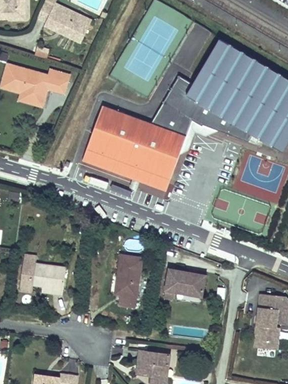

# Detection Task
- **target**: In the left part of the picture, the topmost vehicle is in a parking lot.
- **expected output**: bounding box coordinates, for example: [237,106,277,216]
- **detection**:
[86,176,110,189]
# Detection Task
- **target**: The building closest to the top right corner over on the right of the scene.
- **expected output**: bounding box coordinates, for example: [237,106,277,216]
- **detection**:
[188,40,288,152]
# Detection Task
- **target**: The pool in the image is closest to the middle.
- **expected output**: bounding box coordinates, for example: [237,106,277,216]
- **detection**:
[124,237,144,252]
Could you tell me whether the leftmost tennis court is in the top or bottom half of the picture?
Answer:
top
